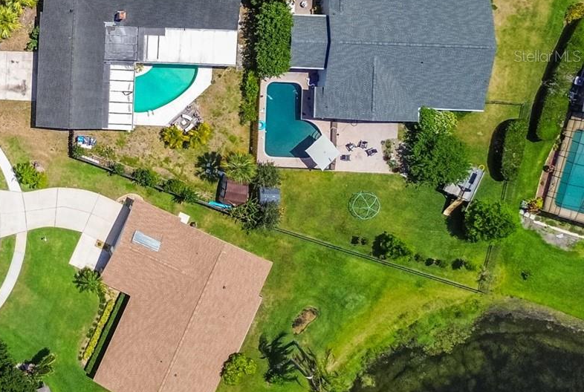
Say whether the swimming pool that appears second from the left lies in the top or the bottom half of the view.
top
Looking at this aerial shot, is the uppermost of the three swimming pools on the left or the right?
left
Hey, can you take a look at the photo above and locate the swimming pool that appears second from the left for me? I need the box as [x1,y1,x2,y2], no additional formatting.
[264,78,326,160]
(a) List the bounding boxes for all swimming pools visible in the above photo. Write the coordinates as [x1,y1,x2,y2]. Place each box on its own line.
[132,64,202,117]
[551,118,584,217]
[264,78,326,160]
